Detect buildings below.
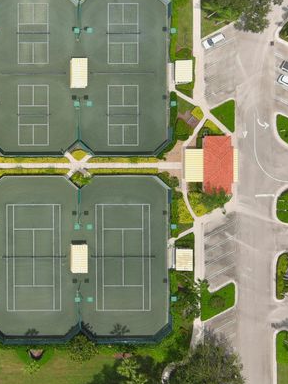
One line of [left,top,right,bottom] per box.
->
[70,59,87,89]
[181,135,238,197]
[172,248,192,271]
[172,60,192,85]
[70,244,87,273]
